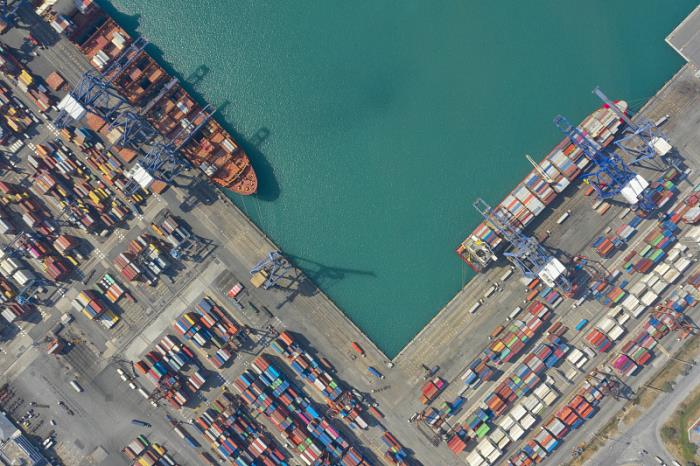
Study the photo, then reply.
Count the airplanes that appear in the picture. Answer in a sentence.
The photo contains no airplanes.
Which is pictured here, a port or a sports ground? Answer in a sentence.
This looks like a port.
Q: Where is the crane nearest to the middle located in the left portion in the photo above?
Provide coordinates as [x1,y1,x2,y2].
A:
[239,244,296,299]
